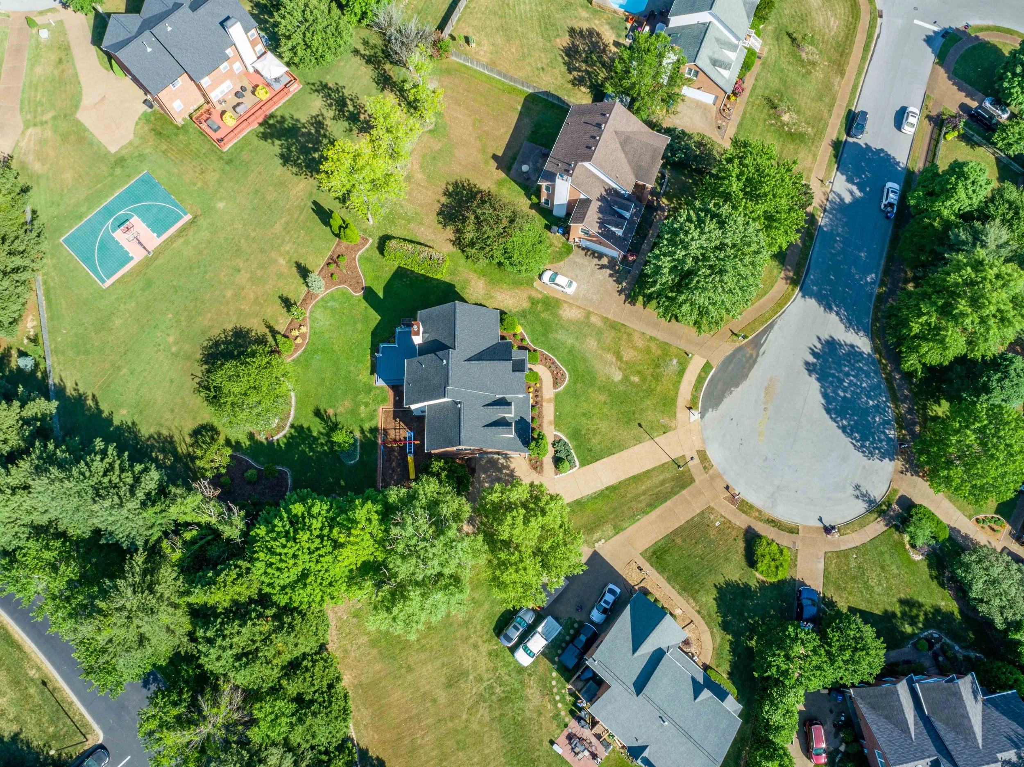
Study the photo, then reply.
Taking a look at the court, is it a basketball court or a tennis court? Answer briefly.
basketball court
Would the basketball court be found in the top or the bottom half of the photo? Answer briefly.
top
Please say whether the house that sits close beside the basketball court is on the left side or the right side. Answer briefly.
left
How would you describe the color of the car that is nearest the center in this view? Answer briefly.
white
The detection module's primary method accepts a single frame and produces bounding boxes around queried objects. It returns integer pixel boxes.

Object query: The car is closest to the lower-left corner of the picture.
[81,741,114,767]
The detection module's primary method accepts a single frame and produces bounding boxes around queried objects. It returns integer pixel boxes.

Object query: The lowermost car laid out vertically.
[807,721,829,764]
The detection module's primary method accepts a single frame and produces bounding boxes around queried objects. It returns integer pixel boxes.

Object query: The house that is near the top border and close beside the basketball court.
[102,0,267,117]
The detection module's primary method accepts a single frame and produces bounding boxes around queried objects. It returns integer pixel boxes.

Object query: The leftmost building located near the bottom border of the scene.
[585,593,742,767]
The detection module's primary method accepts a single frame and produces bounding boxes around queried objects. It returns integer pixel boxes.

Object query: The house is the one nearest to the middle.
[404,303,532,454]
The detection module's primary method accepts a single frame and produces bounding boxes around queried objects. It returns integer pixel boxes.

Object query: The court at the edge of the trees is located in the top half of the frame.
[59,169,192,289]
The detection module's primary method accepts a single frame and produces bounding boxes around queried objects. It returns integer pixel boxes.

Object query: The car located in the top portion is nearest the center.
[541,272,577,295]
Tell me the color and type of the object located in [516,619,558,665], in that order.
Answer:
white truck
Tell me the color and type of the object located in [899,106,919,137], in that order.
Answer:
white car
